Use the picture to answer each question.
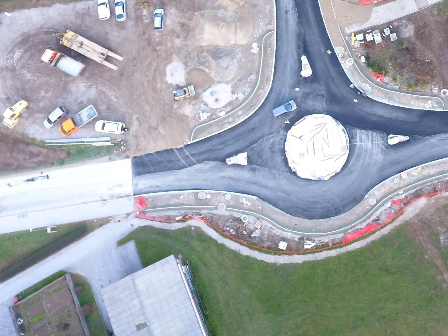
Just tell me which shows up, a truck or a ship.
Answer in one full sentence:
The image shows a truck.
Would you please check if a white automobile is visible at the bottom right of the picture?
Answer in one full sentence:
No, there is no white automobile at the bottom right of the picture.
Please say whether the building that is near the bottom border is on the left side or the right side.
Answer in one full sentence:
The building that is near the bottom border sits on the left side.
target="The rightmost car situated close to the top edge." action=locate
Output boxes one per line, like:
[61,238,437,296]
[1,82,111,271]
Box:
[151,9,166,31]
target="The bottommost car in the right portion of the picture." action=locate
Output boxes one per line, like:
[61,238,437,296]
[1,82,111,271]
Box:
[271,99,298,119]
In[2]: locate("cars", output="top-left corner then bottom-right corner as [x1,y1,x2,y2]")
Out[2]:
[95,0,112,21]
[271,99,298,119]
[151,9,166,31]
[95,119,125,136]
[41,105,69,131]
[112,0,128,22]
